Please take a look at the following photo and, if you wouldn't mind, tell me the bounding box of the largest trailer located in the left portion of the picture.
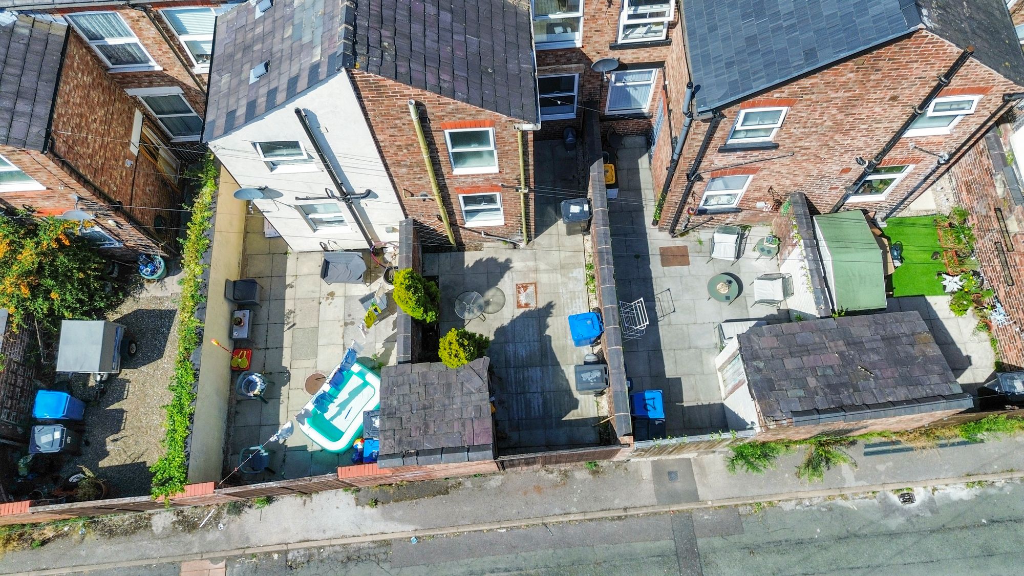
[54,320,140,422]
